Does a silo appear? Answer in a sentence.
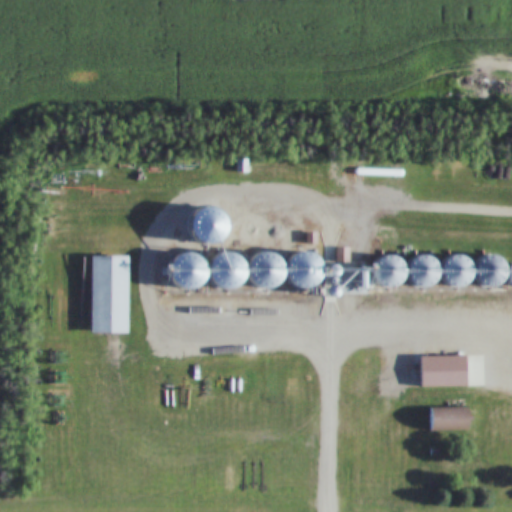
Yes, a silo can be made out from above.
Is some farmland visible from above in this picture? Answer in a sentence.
Yes, the picture does contain farmland.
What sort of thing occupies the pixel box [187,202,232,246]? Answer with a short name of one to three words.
silo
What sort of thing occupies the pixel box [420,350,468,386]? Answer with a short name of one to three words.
house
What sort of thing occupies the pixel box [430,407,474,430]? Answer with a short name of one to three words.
barn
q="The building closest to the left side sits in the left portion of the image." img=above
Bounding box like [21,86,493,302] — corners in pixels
[90,255,130,334]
